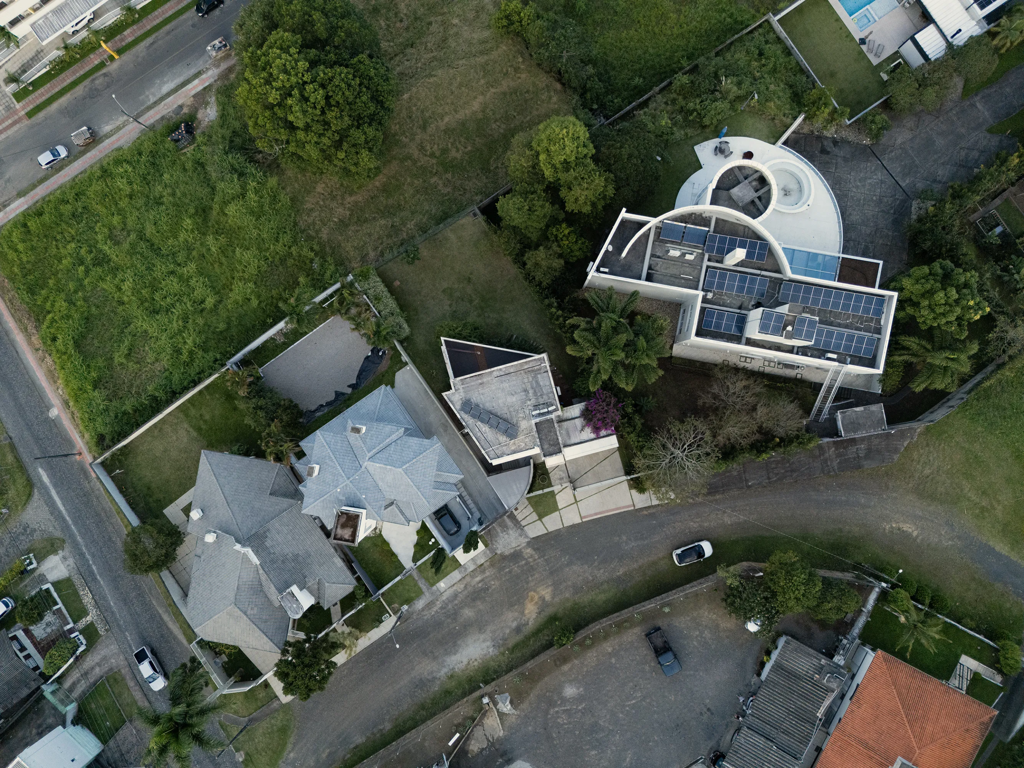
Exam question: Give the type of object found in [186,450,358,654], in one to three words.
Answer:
house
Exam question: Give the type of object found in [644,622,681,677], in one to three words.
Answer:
truck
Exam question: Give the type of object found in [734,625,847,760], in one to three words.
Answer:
shed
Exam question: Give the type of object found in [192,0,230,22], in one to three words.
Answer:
car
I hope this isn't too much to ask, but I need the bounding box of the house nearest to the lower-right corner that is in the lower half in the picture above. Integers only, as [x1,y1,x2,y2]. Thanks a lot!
[801,647,999,768]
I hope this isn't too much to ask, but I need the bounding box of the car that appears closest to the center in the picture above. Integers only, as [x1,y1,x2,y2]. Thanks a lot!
[434,502,464,542]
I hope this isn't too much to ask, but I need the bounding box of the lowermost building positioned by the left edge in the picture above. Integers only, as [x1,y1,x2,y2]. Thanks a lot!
[7,724,105,768]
